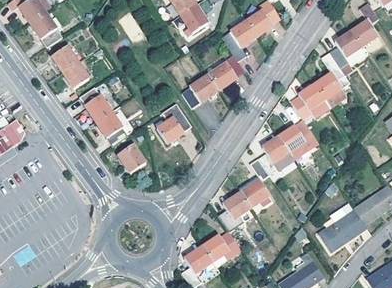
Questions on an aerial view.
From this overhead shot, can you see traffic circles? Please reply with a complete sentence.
Yes, the image includes a traffic circle.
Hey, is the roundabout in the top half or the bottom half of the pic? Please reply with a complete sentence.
Seen from above, the roundabout lies in the bottom half of the view.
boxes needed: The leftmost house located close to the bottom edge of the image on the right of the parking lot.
[182,244,214,288]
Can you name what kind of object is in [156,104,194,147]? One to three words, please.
house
